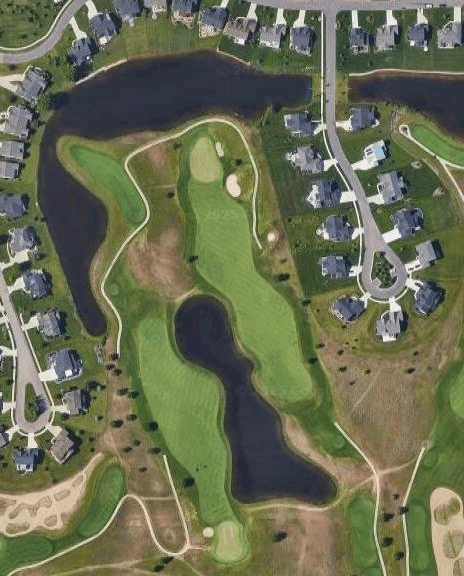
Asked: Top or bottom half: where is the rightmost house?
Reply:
top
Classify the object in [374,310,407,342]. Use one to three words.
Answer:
house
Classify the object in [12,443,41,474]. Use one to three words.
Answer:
house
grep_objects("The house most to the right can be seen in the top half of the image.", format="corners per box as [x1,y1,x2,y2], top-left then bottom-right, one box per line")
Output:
[432,18,464,52]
